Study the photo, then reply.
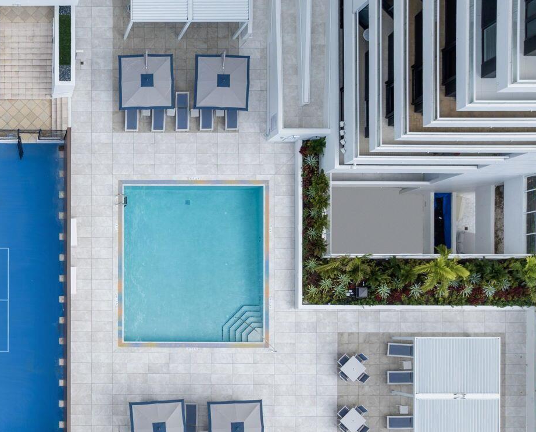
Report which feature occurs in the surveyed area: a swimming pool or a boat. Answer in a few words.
swimming pool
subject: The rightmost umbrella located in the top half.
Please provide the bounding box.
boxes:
[193,48,250,112]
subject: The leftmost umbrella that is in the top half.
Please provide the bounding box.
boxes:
[119,47,174,111]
